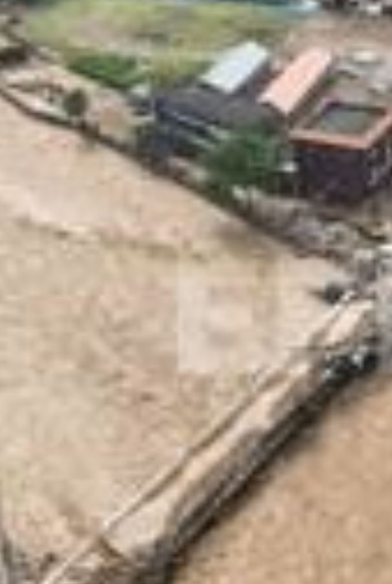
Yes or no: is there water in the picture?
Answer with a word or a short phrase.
Yes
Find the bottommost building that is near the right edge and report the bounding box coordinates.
[286,93,392,191]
